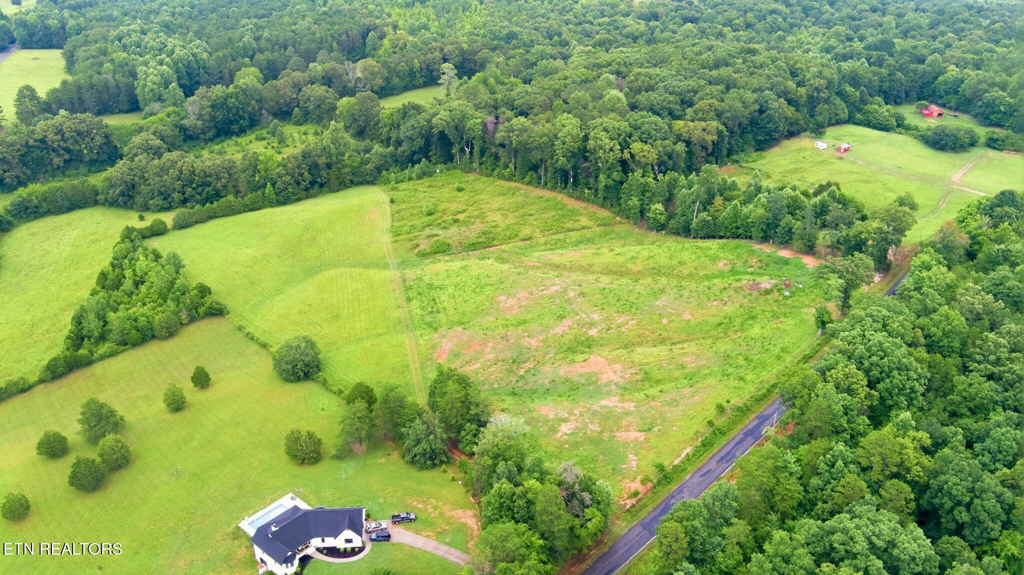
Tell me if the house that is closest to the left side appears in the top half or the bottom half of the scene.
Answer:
bottom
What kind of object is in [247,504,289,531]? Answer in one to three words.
swimming pool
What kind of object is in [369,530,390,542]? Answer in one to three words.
vehicle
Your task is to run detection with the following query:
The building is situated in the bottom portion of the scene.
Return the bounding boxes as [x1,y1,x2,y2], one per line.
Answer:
[250,507,368,575]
